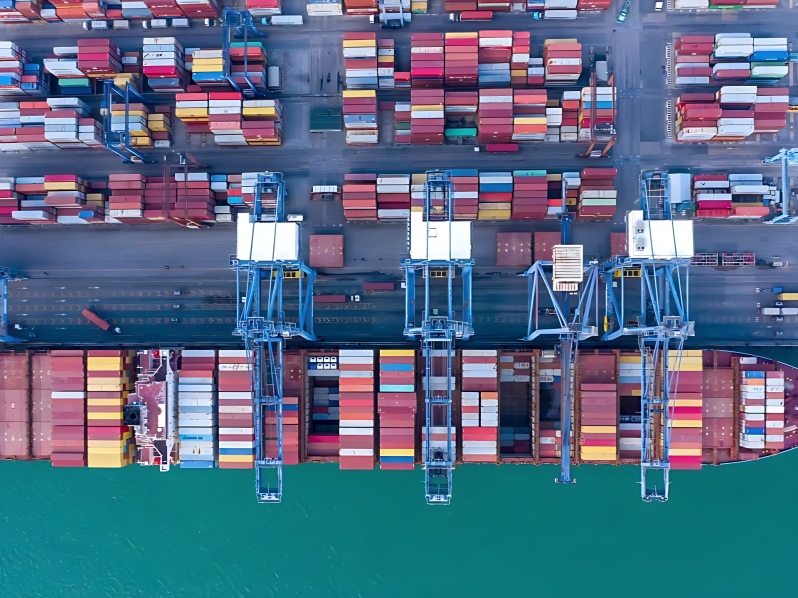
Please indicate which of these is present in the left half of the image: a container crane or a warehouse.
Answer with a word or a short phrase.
container crane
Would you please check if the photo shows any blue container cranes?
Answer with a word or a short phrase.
Yes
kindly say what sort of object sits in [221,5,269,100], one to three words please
crane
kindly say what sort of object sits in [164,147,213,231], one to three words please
crane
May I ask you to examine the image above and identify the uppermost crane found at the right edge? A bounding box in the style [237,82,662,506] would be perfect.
[758,143,798,228]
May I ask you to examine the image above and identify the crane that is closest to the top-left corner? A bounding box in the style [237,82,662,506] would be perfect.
[103,80,159,165]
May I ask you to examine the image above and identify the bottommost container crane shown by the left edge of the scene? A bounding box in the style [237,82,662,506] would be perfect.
[0,265,31,338]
